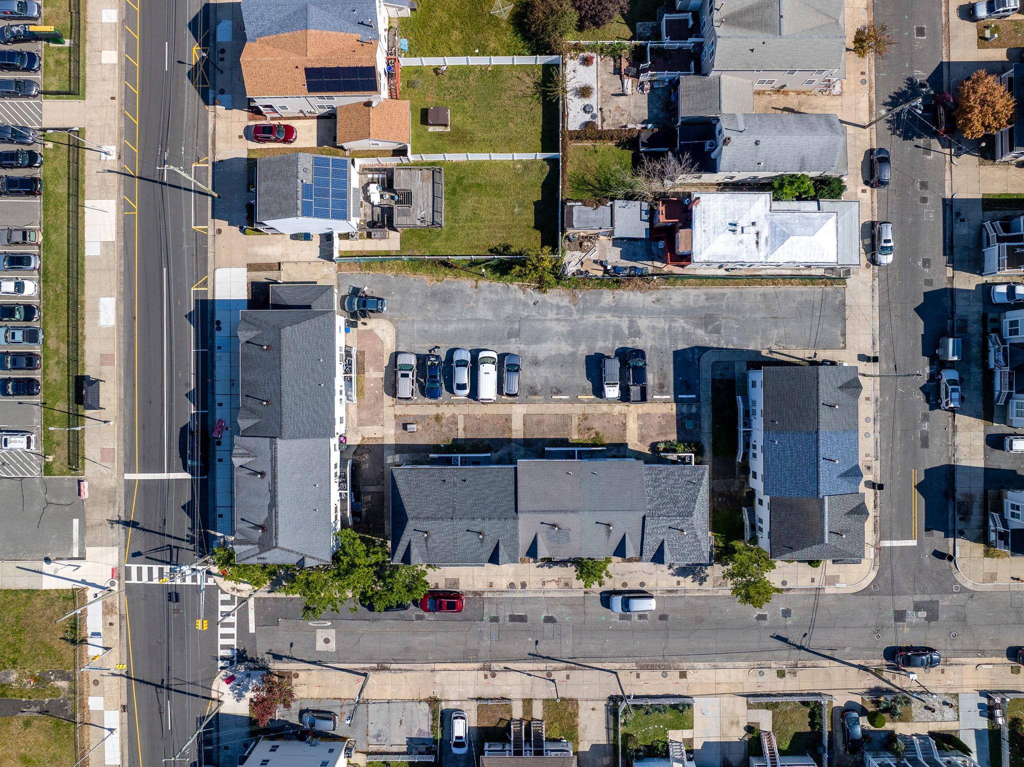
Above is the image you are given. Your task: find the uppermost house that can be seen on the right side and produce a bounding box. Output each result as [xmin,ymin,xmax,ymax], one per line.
[636,0,848,95]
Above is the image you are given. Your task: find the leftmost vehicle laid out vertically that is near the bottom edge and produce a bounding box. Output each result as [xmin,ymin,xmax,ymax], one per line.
[448,705,471,755]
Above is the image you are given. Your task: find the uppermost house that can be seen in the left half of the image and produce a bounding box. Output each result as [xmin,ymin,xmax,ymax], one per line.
[238,0,412,121]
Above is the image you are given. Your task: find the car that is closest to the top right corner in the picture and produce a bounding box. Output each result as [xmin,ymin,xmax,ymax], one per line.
[969,0,1019,23]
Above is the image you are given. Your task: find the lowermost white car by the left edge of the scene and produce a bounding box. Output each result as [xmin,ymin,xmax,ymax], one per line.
[0,431,41,453]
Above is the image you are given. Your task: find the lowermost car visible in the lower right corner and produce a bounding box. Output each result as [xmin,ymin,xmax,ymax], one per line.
[839,707,864,754]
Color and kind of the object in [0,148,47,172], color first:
black car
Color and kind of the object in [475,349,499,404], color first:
white vehicle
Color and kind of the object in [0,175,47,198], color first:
black car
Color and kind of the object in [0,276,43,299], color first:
white car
